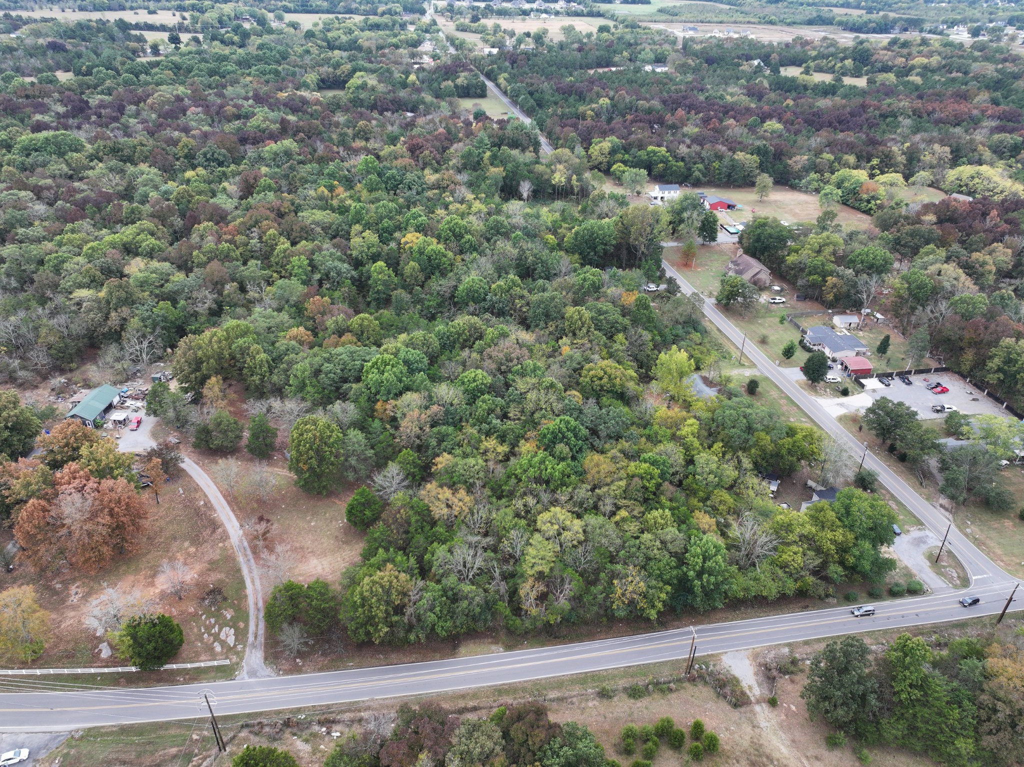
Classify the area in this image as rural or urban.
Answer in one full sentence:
From above, the setting appears rural.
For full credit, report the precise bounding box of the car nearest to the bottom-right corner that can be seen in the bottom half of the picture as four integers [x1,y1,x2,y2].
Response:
[957,594,982,608]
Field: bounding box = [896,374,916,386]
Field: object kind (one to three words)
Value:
vehicle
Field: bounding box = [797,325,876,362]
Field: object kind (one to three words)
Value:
house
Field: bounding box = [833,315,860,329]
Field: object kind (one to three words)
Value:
shed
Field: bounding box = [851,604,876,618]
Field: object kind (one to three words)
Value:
car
